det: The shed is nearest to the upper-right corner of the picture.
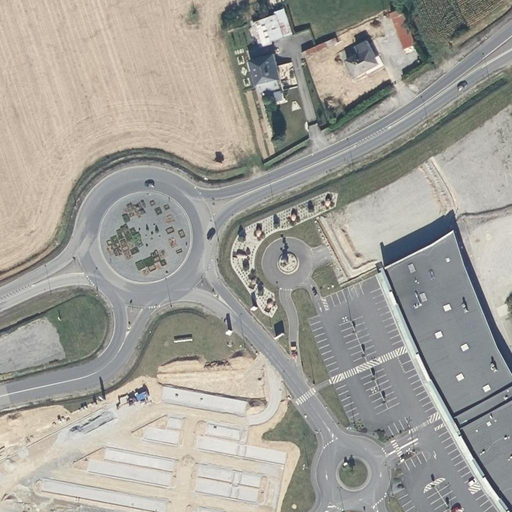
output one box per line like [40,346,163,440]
[390,10,414,54]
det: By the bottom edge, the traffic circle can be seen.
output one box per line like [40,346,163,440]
[317,434,390,512]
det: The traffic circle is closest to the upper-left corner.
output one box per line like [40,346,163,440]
[76,167,216,307]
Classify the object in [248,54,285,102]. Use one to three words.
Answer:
house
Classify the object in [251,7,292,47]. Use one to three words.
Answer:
shed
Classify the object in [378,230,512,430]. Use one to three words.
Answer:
building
